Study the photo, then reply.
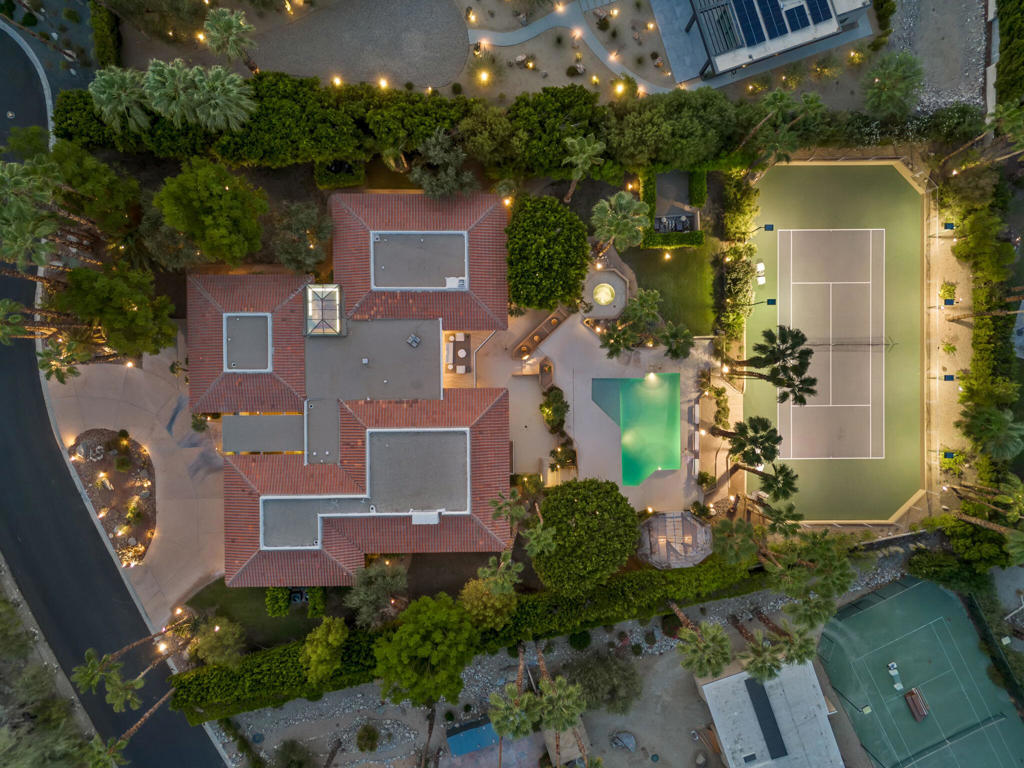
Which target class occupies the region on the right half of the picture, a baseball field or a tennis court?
tennis court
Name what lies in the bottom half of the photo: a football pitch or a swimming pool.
swimming pool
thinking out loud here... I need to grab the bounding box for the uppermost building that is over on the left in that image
[185,191,513,588]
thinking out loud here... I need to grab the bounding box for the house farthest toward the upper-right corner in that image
[687,0,872,79]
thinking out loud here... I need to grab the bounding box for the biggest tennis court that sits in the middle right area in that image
[739,158,927,527]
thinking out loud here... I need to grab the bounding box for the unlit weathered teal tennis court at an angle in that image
[818,583,1024,768]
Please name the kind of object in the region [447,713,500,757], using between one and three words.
swimming pool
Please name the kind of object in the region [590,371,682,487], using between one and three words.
swimming pool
